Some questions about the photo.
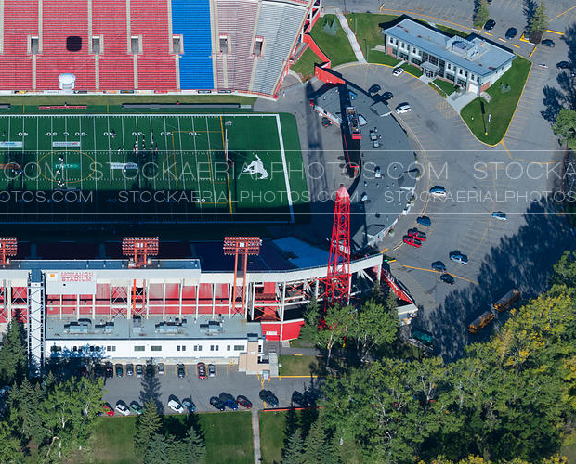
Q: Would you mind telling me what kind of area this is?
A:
sports ground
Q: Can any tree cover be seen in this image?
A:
Yes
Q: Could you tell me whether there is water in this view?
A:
No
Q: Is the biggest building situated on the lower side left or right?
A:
left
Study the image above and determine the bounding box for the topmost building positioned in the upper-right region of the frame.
[379,3,522,96]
